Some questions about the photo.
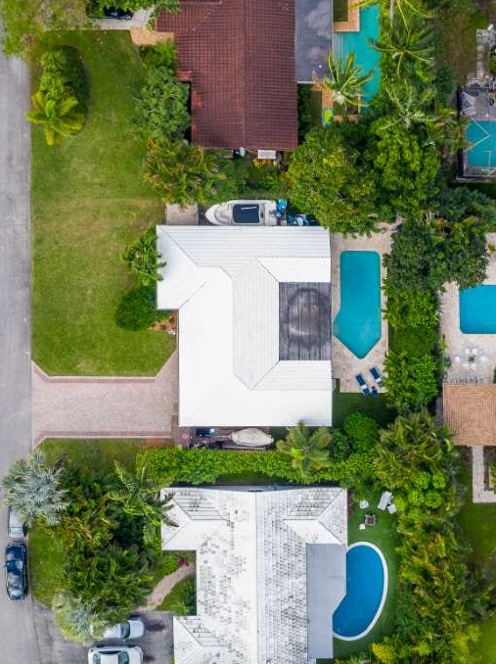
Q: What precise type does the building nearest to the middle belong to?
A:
house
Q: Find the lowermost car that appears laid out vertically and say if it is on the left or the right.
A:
left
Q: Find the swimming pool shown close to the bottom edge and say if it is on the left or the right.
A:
right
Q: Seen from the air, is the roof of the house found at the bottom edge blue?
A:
No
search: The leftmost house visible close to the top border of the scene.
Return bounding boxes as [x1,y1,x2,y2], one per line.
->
[154,0,334,152]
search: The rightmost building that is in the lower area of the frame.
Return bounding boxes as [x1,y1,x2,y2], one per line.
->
[440,381,496,447]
